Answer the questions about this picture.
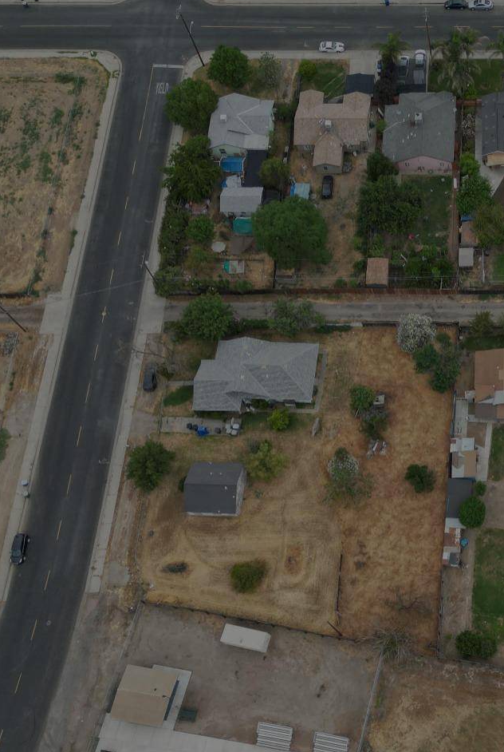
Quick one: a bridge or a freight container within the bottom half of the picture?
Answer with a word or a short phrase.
freight container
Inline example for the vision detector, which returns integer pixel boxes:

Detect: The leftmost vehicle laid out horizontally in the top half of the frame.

[317,39,346,52]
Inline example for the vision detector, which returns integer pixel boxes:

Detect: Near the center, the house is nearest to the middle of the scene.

[192,336,320,416]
